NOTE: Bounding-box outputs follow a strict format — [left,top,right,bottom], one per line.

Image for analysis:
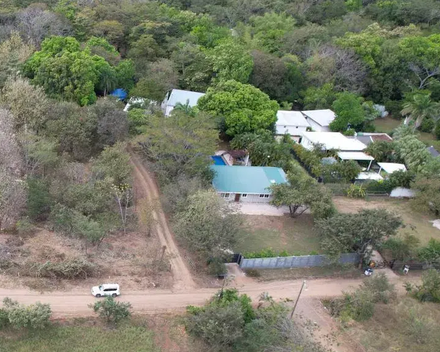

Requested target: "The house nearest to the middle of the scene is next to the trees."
[203,163,287,204]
